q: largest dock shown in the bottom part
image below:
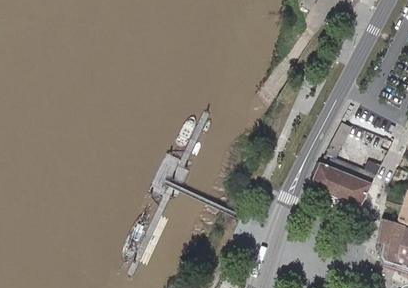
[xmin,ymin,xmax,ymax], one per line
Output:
[128,110,210,276]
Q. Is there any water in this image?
Yes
